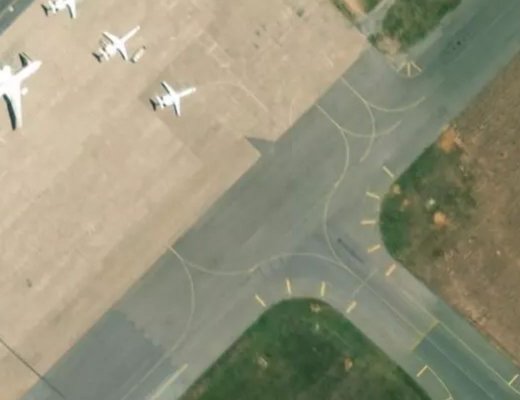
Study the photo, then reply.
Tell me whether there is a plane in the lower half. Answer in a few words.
No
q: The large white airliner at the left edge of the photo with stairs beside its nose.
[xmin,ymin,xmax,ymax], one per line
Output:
[0,61,41,128]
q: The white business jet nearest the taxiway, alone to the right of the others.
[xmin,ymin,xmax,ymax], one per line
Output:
[156,81,196,116]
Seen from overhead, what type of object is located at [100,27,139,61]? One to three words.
airplane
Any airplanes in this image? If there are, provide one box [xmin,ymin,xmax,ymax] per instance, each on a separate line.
[100,27,139,61]
[0,61,41,128]
[47,0,75,18]
[156,81,196,116]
